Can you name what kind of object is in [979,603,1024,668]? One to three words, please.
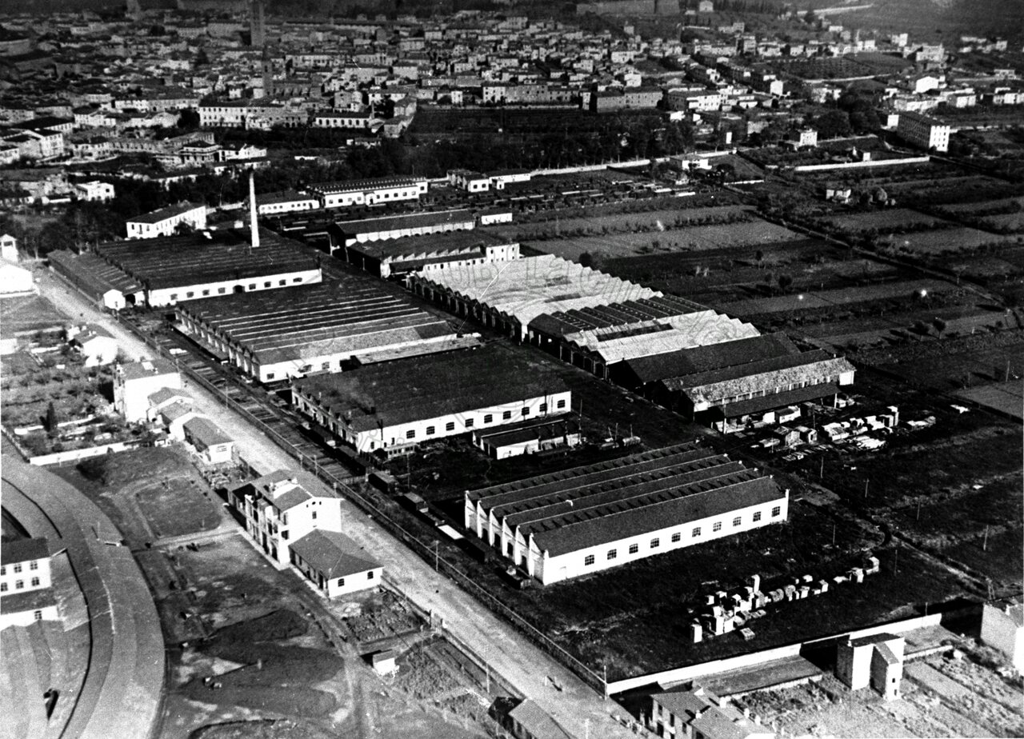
house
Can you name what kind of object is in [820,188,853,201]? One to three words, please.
building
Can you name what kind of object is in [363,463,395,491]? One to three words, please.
rail car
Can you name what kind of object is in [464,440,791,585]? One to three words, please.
warehouse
